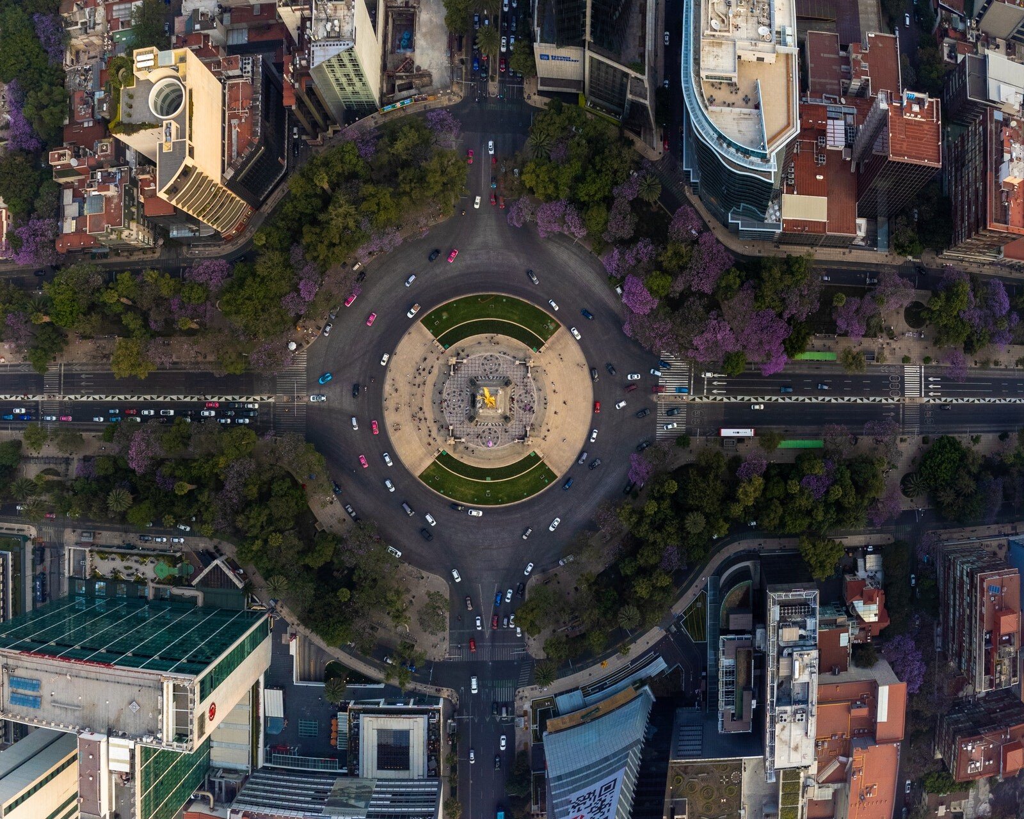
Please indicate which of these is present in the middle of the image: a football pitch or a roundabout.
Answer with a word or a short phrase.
roundabout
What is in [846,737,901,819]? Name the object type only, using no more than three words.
building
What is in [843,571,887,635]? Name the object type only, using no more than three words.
house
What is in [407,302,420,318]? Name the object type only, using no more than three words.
vehicle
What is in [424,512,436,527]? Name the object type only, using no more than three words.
vehicle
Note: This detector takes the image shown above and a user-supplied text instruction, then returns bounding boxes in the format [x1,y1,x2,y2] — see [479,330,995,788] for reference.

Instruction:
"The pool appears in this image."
[269,717,284,736]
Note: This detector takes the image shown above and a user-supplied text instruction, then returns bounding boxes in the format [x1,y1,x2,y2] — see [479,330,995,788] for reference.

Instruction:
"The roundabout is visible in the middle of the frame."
[299,210,677,589]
